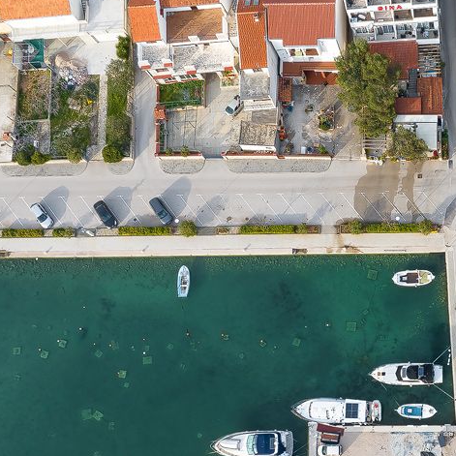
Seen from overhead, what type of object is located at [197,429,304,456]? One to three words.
boat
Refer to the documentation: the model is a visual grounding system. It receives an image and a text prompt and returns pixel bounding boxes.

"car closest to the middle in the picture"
[146,195,176,227]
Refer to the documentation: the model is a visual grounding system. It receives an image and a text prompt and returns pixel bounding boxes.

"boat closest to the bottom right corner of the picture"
[392,398,437,420]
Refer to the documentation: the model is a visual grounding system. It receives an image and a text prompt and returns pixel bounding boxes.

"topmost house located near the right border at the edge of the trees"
[340,0,442,84]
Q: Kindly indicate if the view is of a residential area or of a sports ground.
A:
residential area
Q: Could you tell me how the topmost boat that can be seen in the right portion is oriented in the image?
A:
horizontally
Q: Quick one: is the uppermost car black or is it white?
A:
white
